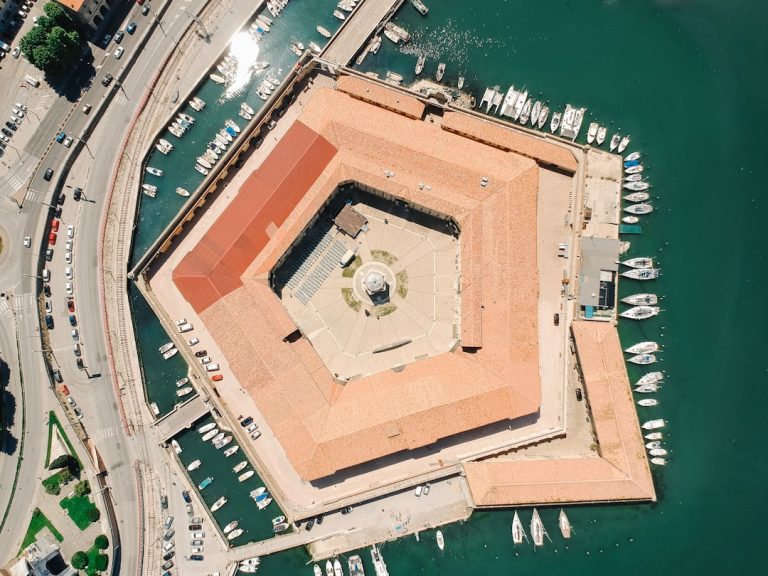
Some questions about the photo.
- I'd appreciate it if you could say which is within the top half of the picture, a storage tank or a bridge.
bridge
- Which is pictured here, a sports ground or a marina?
marina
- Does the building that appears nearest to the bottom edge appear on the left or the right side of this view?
left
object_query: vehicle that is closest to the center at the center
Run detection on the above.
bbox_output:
[340,245,358,266]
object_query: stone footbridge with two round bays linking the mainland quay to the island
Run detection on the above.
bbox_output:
[151,394,211,442]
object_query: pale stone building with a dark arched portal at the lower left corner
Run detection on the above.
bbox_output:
[12,537,91,576]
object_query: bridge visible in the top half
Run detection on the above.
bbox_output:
[318,0,399,68]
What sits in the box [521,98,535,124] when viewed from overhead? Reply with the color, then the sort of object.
white boat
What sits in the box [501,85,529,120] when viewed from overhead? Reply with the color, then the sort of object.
white boat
